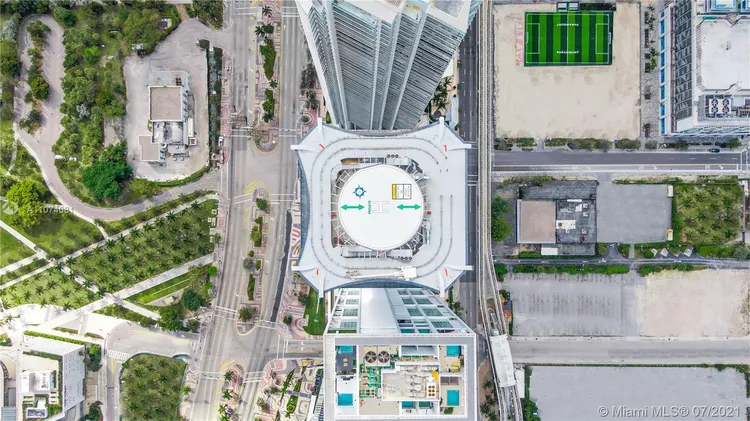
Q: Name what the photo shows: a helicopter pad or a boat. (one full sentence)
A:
This aerial view contains a helicopter pad.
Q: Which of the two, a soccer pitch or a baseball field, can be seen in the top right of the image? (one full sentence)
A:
There is a soccer pitch in the top right of the image.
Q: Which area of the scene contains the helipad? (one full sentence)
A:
The helipad sits in the center section of the image.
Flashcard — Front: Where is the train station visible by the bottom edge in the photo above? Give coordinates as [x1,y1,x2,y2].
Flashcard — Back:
[489,306,524,421]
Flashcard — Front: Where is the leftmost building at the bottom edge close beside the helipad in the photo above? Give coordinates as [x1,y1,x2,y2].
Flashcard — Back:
[324,288,479,421]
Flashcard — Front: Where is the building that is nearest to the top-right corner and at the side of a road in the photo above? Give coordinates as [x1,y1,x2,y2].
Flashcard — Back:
[656,0,750,140]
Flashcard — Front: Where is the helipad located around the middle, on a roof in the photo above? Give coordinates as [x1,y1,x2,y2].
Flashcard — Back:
[333,158,428,256]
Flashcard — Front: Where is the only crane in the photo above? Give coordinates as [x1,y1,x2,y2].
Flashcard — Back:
[346,267,417,281]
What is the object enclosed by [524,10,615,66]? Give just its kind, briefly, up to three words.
soccer field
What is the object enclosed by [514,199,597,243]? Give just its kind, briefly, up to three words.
building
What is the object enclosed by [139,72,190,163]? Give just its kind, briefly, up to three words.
building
